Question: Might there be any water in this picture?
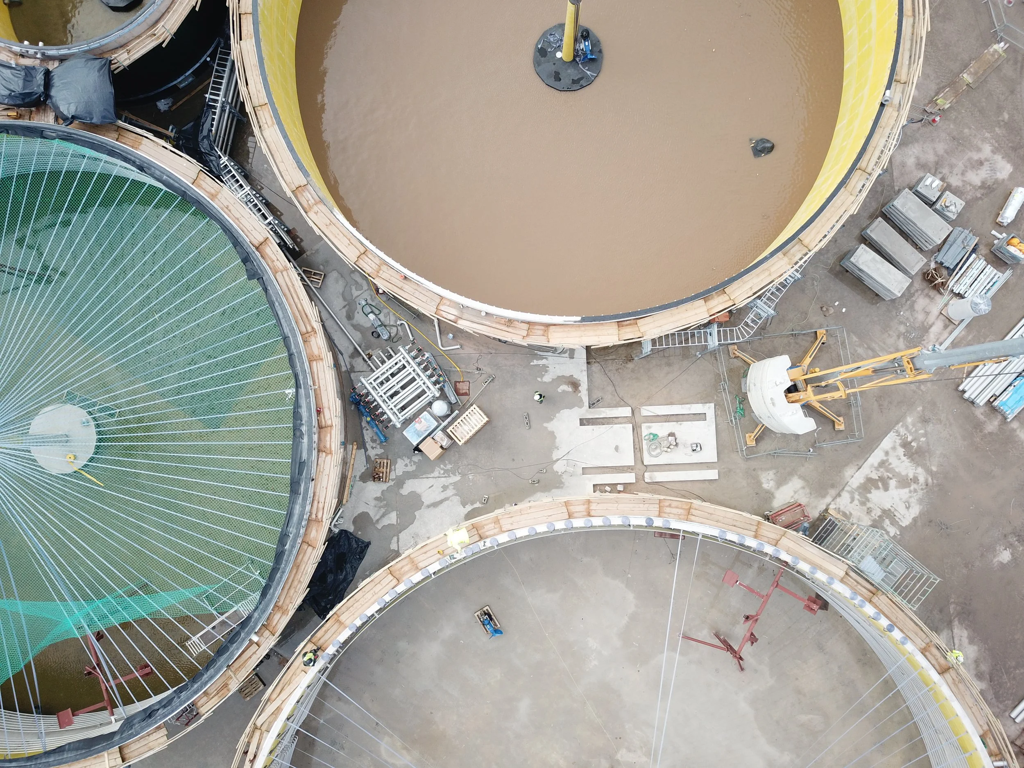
Yes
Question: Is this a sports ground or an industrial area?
industrial area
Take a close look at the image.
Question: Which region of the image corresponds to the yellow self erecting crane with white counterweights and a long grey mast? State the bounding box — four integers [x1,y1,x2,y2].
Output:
[726,329,1024,448]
